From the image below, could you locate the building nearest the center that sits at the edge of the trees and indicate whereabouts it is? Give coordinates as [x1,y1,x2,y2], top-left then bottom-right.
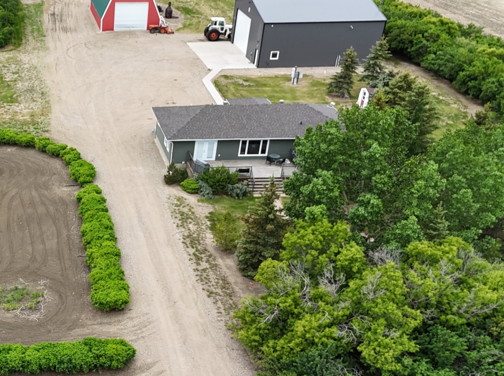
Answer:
[149,96,339,167]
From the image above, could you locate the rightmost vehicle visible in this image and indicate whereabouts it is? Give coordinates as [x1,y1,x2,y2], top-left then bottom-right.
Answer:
[203,15,234,41]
